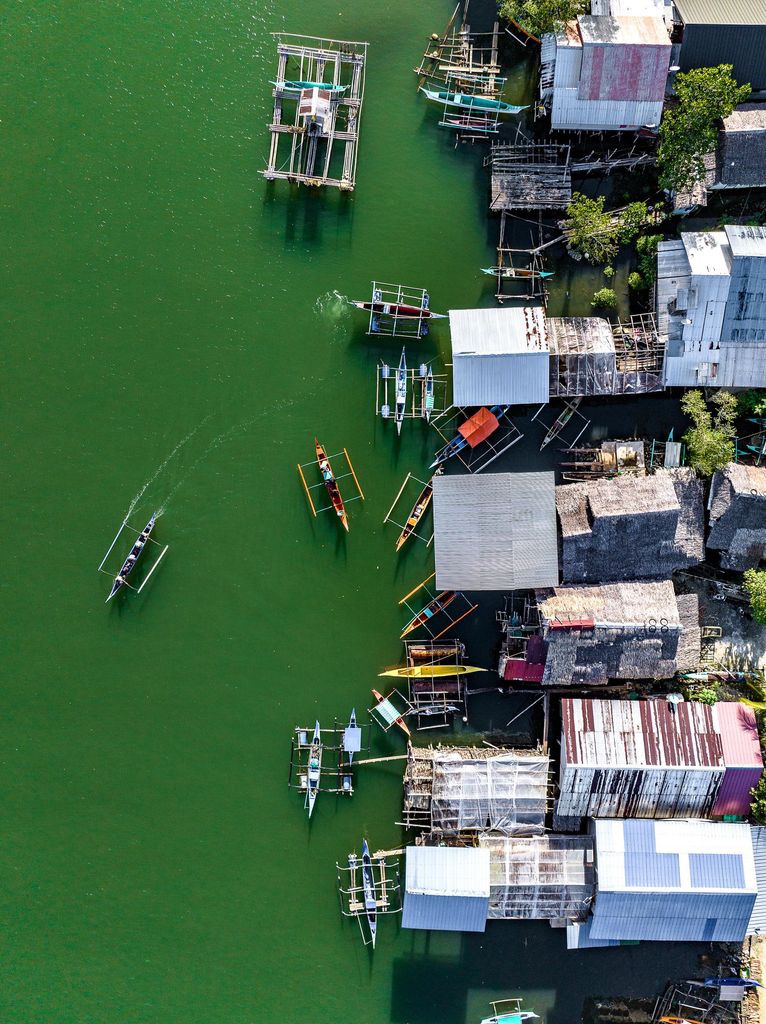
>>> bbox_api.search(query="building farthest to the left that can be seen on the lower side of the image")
[402,817,490,932]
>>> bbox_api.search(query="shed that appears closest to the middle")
[432,471,558,590]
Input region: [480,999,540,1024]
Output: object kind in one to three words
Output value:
boat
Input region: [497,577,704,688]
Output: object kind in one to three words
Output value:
house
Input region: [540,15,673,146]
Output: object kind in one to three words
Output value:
house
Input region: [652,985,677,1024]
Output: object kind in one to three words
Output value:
boat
